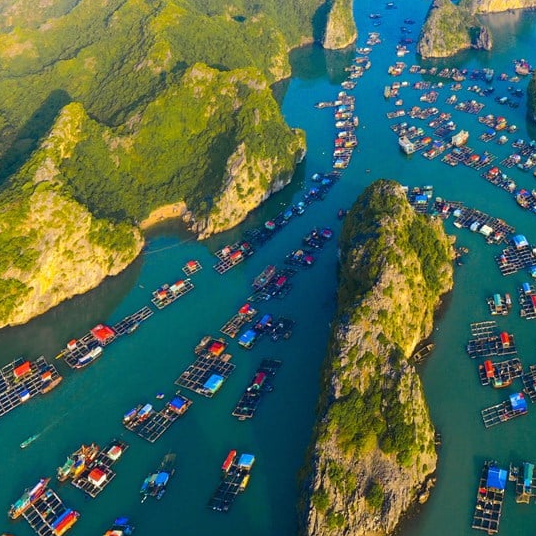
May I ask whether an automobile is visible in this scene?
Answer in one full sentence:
No, there appears to be no automobile in this shot.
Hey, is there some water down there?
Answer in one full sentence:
Yes, there's water in this view.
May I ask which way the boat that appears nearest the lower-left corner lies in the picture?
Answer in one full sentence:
I'd say the boat that appears nearest the lower-left corner is aligned on a diagonal in the picture.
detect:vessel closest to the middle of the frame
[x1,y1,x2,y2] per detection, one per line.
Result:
[252,262,278,286]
